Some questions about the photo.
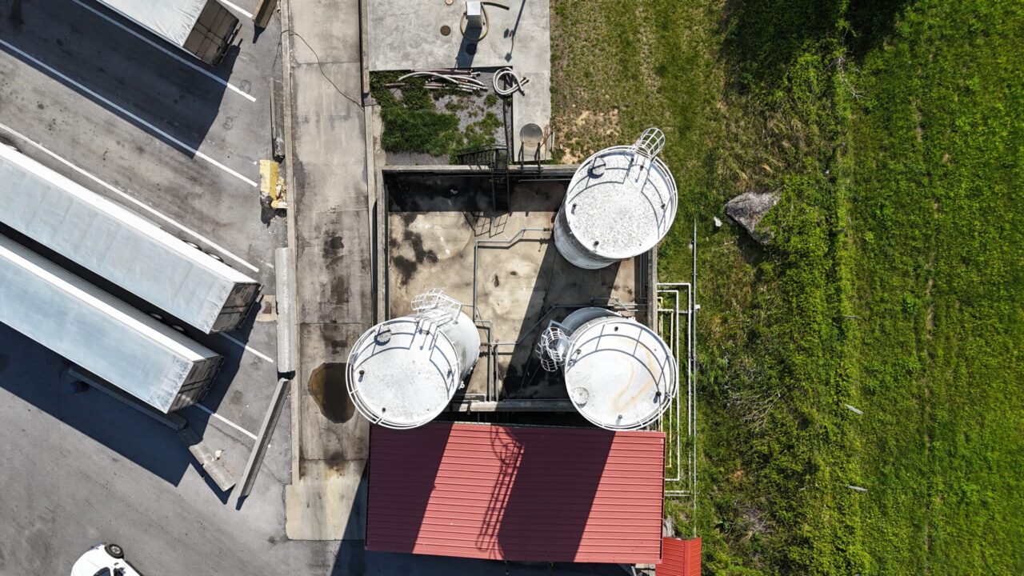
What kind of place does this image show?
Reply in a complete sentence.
This image shows an industrial area.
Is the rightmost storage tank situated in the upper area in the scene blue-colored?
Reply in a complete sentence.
No, the color of the rightmost storage tank situated in the upper area is white.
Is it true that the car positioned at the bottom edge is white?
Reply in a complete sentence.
Yes, white is the color of the car positioned at the bottom edge.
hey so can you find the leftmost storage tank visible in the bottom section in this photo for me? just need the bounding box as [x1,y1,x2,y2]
[346,287,484,429]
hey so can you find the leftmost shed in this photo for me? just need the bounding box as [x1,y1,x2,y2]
[365,413,667,565]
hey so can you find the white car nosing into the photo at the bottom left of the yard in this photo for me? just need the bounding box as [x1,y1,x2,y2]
[72,543,141,576]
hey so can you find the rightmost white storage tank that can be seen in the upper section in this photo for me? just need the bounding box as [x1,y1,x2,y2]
[551,123,679,270]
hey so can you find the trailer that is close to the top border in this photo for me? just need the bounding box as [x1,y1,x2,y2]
[89,0,246,72]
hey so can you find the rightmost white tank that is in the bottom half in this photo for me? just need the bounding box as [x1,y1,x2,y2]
[533,306,679,431]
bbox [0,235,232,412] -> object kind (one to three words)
trailer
